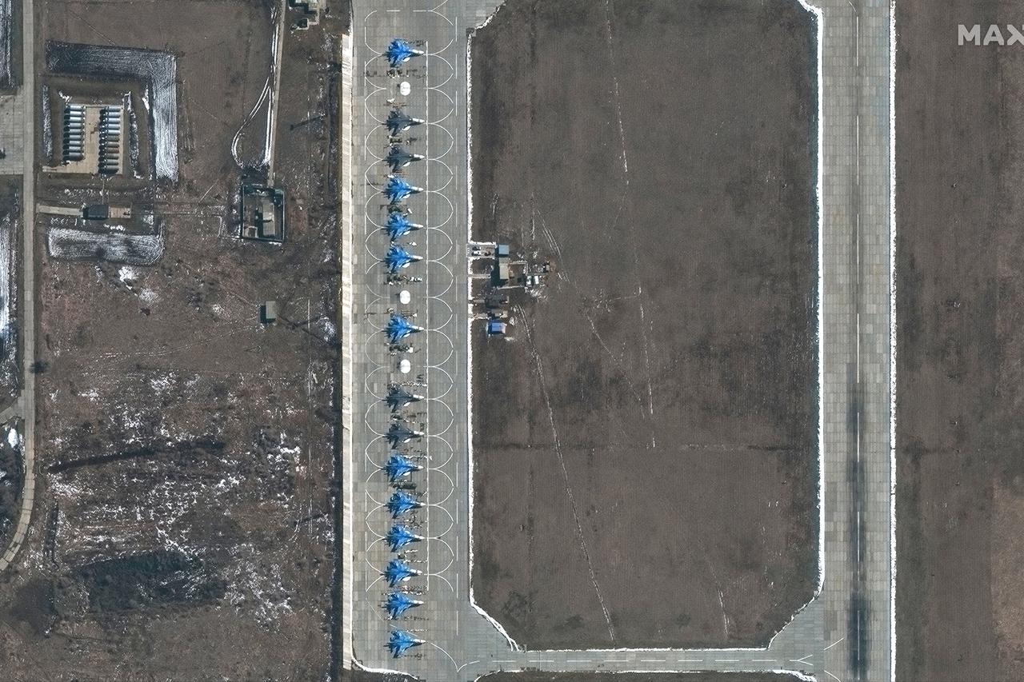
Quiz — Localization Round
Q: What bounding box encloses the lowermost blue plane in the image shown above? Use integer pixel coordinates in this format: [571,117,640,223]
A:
[387,629,426,654]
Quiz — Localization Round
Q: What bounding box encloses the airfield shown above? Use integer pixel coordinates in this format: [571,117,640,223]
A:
[352,0,892,682]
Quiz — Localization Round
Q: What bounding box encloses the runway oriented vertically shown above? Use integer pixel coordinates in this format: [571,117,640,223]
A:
[802,0,892,682]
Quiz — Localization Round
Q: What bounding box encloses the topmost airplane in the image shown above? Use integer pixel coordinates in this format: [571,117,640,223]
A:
[385,40,424,64]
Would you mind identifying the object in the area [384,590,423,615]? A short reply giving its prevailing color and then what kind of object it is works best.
blue airplane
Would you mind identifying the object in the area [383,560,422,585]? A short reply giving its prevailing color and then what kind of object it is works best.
blue airplane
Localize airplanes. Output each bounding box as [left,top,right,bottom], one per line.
[385,40,424,64]
[385,385,424,409]
[386,109,425,133]
[385,525,425,550]
[383,560,422,585]
[387,629,426,654]
[386,145,425,169]
[384,590,423,615]
[384,455,423,480]
[387,492,426,517]
[384,177,423,201]
[385,214,423,239]
[384,246,423,270]
[385,421,424,446]
[385,316,424,341]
